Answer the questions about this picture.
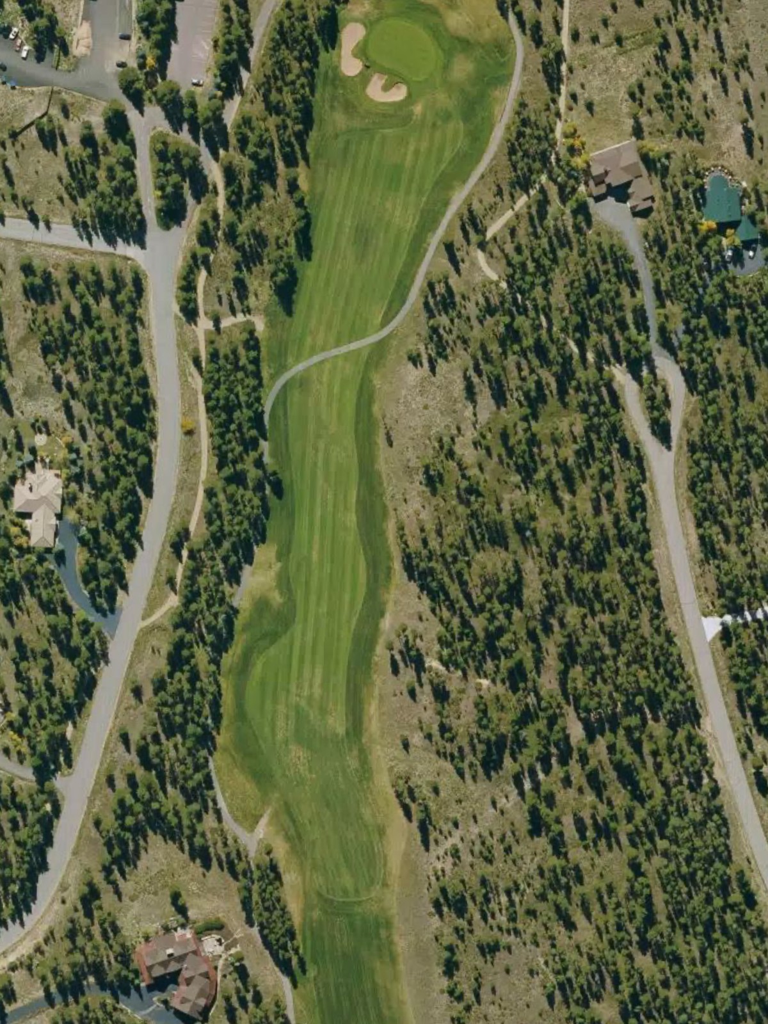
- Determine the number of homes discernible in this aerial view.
4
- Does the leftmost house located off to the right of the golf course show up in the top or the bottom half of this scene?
top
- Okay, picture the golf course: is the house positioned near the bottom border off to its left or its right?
to the left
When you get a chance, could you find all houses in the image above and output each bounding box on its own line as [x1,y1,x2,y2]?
[13,461,62,547]
[135,928,217,1019]
[586,136,656,212]
[705,172,742,222]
